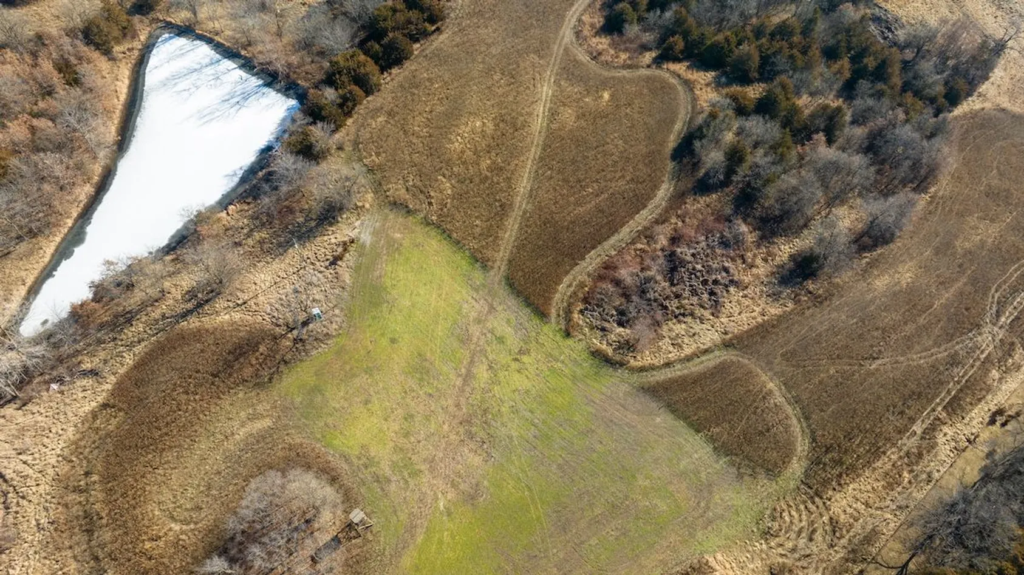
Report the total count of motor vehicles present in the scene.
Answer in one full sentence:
The picture shows no motor vehicles.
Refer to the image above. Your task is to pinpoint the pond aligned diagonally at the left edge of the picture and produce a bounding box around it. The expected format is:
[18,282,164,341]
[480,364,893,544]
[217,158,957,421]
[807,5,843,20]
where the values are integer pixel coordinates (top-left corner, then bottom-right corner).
[9,23,304,342]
